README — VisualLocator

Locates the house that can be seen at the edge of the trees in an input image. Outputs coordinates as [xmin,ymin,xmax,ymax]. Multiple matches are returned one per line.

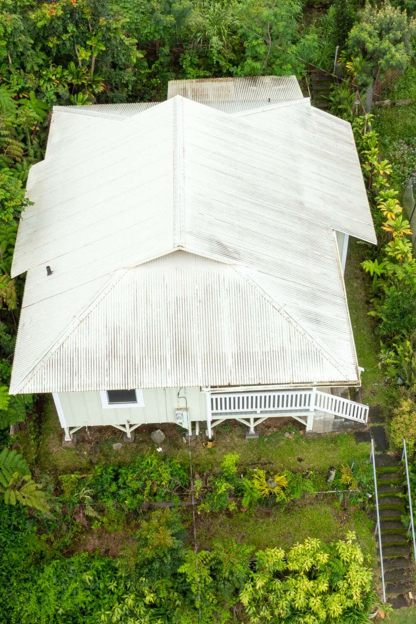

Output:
[7,76,376,445]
